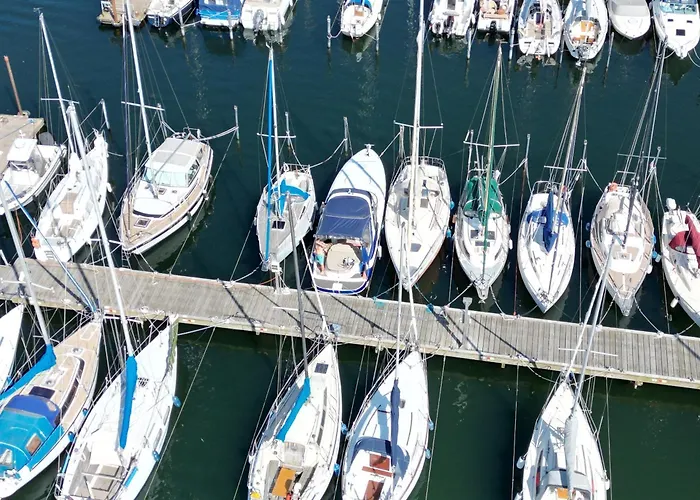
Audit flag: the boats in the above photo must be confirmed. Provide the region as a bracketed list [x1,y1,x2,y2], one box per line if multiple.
[604,0,648,41]
[516,52,584,311]
[429,0,472,40]
[0,272,26,400]
[660,176,700,317]
[146,0,198,27]
[341,0,384,42]
[200,0,244,29]
[31,0,109,266]
[312,140,390,299]
[0,174,106,500]
[121,0,218,256]
[0,129,67,222]
[647,0,699,61]
[53,85,187,500]
[256,33,317,270]
[455,25,518,295]
[522,225,614,500]
[589,31,665,318]
[385,0,449,293]
[243,0,292,34]
[474,0,512,34]
[562,0,607,67]
[340,207,429,500]
[247,174,343,500]
[514,0,558,58]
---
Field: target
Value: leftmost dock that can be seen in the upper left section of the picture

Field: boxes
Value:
[0,116,47,149]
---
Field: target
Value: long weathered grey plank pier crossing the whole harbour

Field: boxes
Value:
[0,259,700,388]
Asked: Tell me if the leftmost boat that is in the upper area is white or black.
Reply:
white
